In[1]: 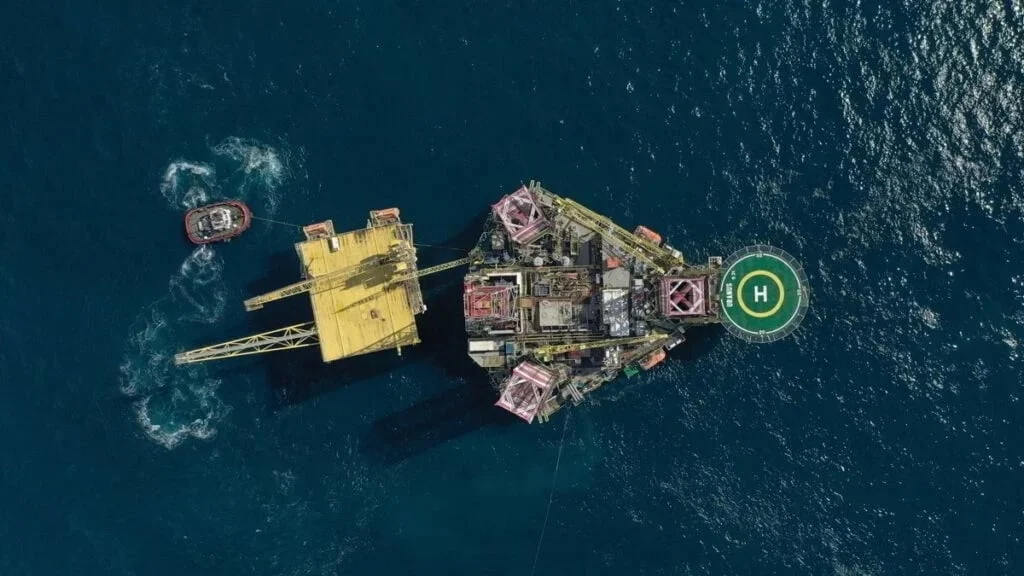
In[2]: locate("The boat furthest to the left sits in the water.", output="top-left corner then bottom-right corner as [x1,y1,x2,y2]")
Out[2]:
[185,200,254,244]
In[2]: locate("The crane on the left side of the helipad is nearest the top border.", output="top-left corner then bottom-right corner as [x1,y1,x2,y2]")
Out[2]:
[545,194,668,276]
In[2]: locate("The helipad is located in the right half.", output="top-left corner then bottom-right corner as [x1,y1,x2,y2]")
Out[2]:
[711,246,811,342]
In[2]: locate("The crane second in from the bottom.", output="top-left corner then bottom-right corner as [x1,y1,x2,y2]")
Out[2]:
[243,243,420,312]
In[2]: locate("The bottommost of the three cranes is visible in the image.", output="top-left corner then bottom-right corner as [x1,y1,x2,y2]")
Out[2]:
[529,332,670,363]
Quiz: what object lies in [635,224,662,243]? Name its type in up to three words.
boat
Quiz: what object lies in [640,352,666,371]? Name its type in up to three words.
boat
